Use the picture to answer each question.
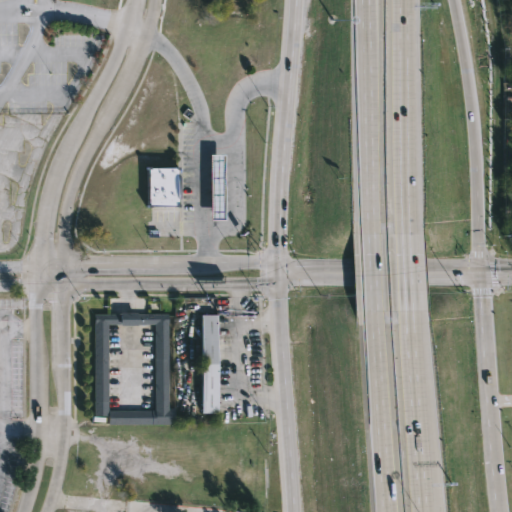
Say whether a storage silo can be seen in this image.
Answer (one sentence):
No, I can't see a single storage silo in this photo.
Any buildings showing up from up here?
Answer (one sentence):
Yes, you can see a building in this photo.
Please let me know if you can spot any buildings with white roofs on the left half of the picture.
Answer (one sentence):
Yes, a building with a white roof can be seen on the left half of the picture.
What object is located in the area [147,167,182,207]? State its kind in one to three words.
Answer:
building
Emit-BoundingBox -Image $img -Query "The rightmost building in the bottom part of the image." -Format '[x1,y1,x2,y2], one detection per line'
[202,315,220,413]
